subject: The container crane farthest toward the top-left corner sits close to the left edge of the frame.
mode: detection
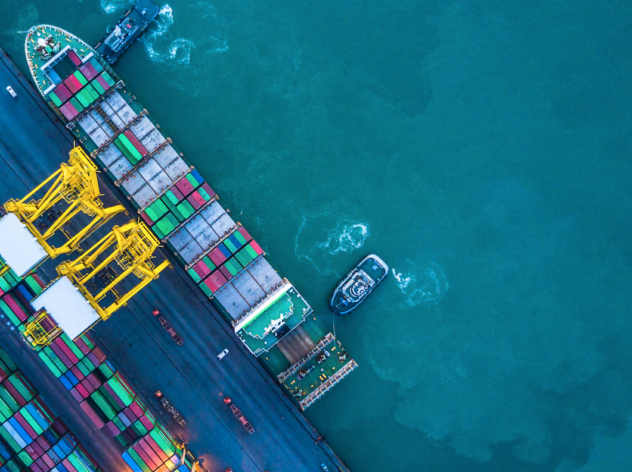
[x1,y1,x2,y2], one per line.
[0,132,129,280]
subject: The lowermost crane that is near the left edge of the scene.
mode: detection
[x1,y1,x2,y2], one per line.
[15,208,174,352]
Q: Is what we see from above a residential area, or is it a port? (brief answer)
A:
port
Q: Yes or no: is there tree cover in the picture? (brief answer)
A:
No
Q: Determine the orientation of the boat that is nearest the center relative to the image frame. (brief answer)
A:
diagonally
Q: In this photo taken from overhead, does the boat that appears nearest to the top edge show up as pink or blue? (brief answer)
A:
blue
